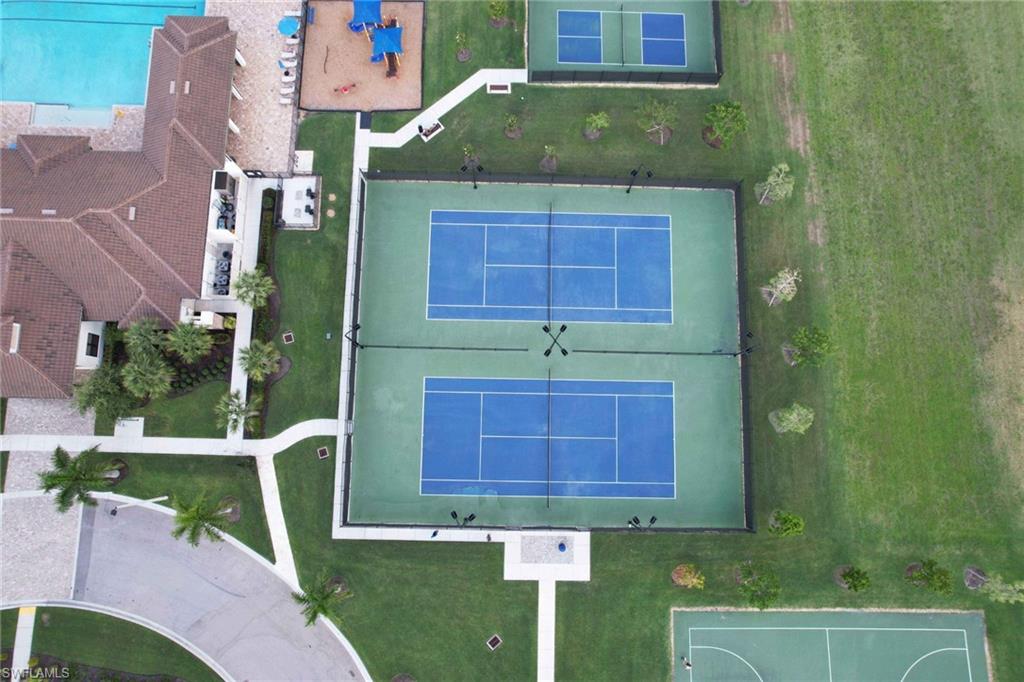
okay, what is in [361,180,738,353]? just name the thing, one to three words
tennis court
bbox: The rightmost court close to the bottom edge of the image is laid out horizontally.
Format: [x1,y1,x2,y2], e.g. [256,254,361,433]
[673,611,988,682]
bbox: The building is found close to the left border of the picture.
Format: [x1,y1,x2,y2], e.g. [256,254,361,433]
[0,14,247,399]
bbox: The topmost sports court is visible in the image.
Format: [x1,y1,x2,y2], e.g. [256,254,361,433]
[526,0,717,84]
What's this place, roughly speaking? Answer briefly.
sports ground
